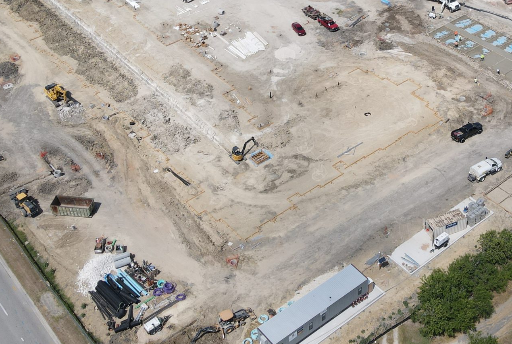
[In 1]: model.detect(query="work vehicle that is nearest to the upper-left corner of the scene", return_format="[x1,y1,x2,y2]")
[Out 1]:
[43,81,73,109]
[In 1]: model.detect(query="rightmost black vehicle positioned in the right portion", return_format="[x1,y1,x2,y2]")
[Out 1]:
[452,125,482,141]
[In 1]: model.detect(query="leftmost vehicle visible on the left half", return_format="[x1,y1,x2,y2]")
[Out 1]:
[8,190,38,214]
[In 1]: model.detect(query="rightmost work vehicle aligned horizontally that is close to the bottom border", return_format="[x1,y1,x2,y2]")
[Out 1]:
[184,312,256,338]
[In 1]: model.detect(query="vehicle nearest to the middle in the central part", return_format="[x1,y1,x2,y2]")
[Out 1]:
[228,135,260,167]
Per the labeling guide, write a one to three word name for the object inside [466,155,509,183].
truck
